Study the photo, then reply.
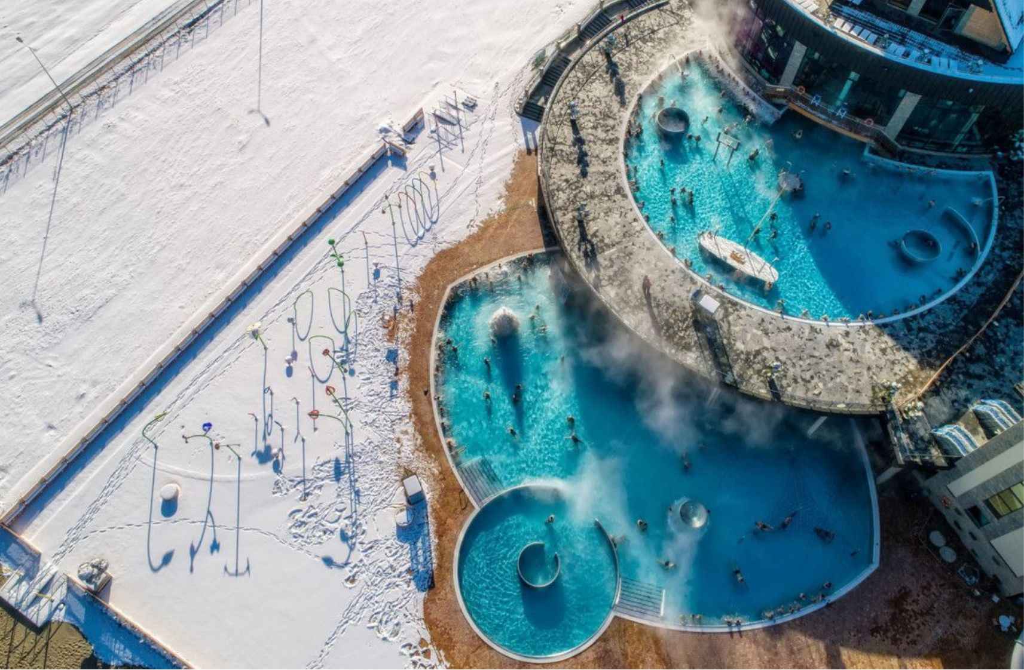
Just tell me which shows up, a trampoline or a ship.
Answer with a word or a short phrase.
ship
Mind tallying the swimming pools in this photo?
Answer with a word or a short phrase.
two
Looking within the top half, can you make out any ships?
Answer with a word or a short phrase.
Yes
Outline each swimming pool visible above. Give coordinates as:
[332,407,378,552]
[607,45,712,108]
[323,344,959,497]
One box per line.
[626,55,992,322]
[434,251,876,652]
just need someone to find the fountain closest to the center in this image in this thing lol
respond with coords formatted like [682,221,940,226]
[485,311,524,355]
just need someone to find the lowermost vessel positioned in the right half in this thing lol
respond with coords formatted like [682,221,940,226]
[699,166,801,291]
